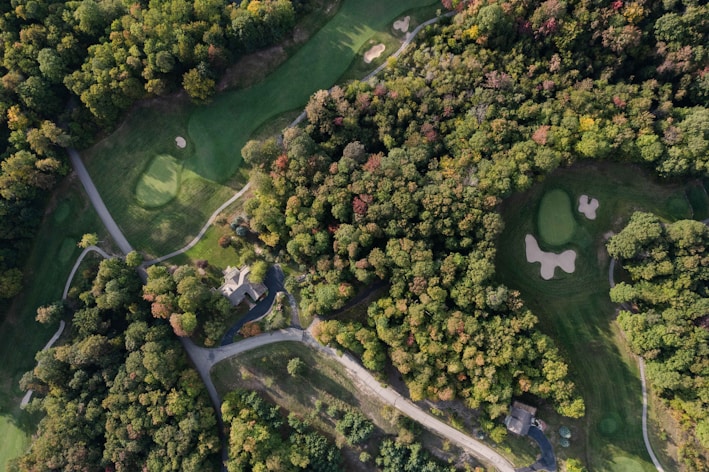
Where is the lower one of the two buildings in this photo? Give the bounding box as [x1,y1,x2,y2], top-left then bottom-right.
[501,399,537,435]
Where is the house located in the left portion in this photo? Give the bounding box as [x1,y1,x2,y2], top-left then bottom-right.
[221,263,269,311]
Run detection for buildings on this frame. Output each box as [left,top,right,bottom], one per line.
[501,399,537,435]
[221,263,269,311]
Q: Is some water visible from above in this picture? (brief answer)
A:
No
